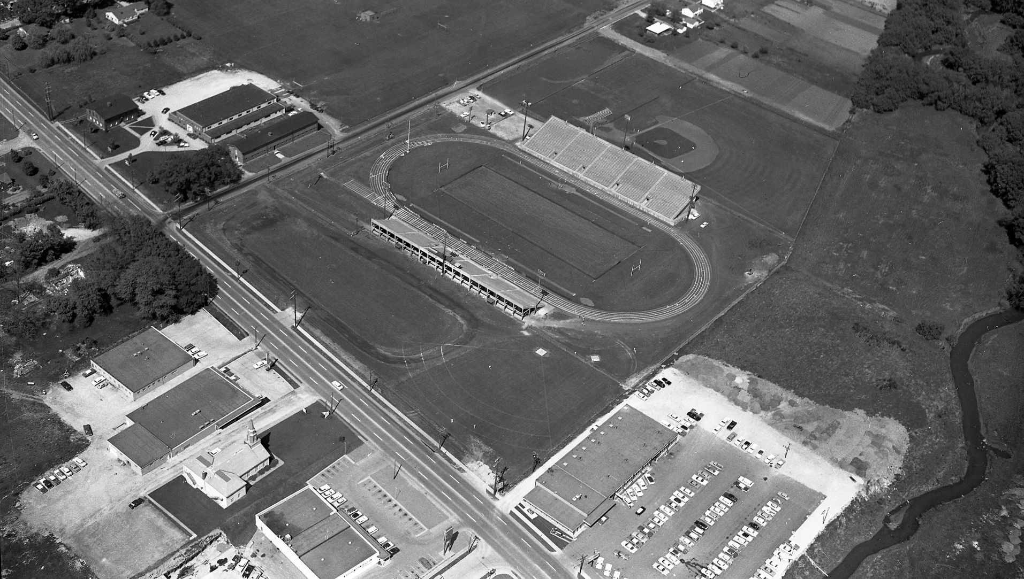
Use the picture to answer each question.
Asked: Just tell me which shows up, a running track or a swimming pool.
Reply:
running track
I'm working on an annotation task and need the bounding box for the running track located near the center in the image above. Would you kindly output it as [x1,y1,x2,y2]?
[370,134,712,324]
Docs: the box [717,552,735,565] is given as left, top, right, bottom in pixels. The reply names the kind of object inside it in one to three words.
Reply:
vehicle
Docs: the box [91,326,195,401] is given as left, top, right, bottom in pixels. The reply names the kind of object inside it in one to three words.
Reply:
building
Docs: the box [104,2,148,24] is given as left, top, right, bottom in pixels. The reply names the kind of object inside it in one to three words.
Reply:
house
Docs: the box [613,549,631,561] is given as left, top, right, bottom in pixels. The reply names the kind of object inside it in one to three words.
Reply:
vehicle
